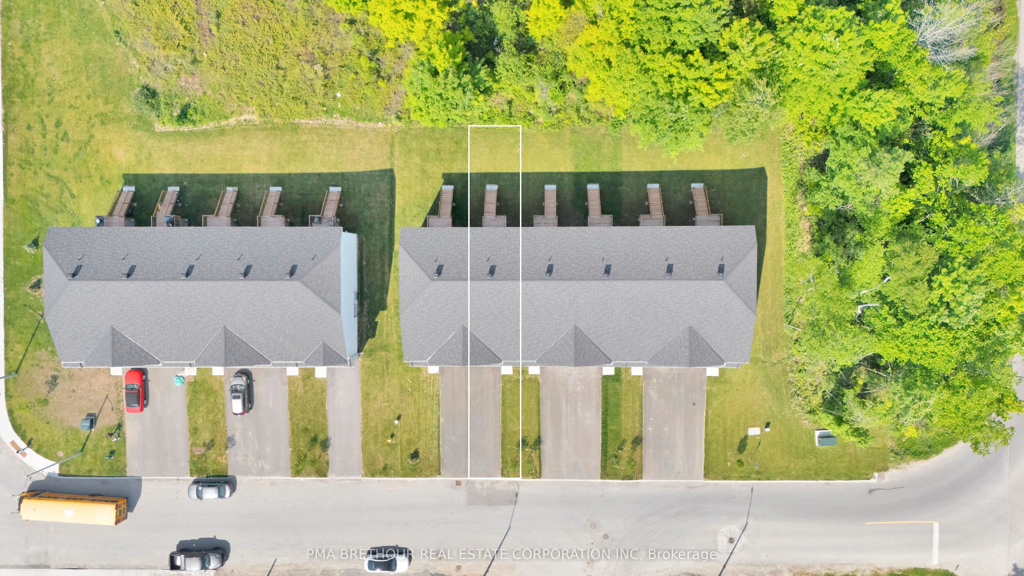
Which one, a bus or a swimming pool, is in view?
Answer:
bus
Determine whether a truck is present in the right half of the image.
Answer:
No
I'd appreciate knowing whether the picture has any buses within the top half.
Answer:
No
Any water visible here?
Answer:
No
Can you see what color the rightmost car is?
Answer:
white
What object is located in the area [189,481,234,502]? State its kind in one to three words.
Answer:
car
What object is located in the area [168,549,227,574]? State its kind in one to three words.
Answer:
truck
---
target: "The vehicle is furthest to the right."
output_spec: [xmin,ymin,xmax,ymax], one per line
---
[364,552,409,574]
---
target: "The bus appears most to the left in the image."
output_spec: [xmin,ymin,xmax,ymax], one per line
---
[16,489,129,525]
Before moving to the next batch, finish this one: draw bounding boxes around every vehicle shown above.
[168,549,227,574]
[16,489,129,525]
[122,369,146,414]
[364,552,409,574]
[189,481,234,502]
[228,373,251,416]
